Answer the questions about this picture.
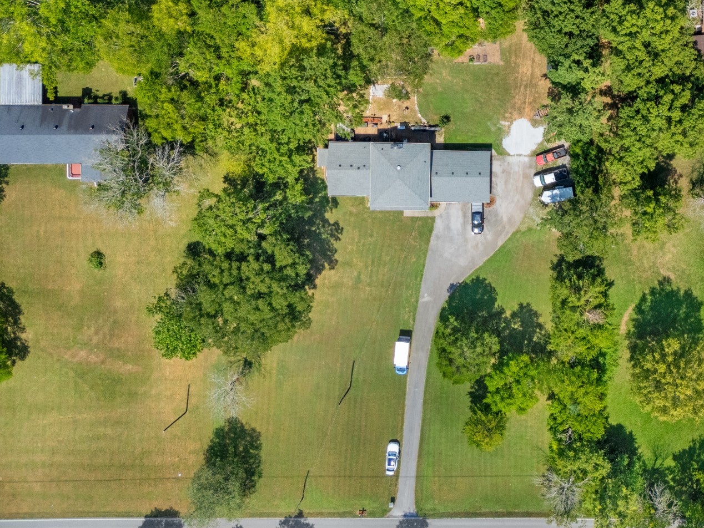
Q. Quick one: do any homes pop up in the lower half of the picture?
No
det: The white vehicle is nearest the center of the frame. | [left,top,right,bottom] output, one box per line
[390,332,408,370]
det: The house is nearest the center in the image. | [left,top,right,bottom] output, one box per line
[316,141,492,212]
